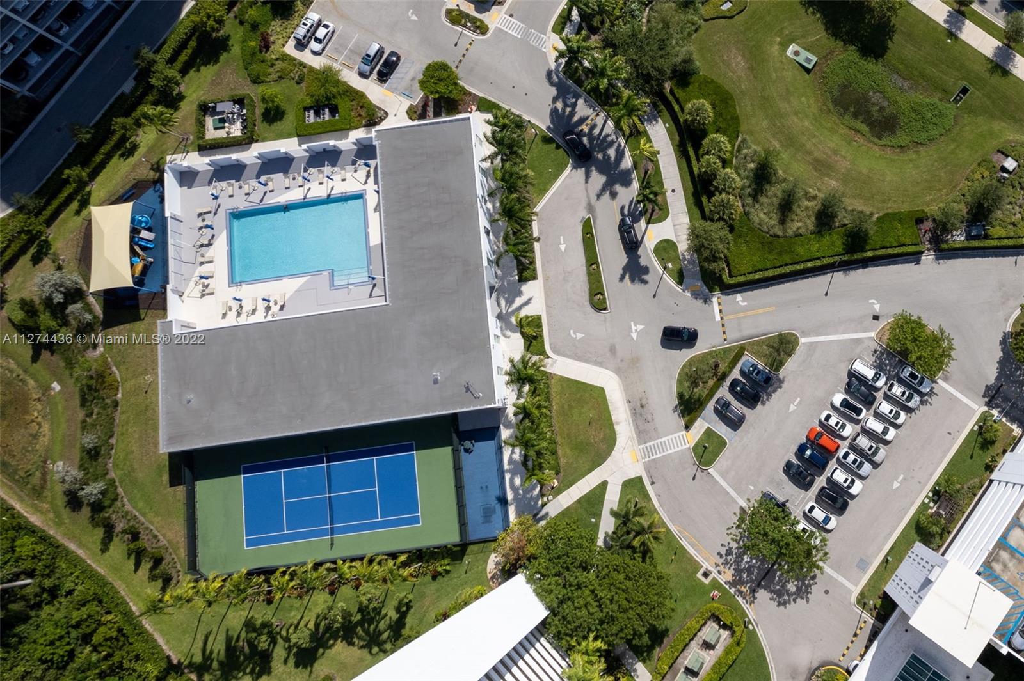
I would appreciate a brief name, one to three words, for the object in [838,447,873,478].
car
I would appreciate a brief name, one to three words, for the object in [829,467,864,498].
car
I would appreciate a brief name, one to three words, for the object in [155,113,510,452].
building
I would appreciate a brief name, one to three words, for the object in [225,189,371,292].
swimming pool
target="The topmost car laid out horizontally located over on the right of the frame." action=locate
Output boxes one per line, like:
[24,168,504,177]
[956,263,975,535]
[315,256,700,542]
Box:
[661,324,699,342]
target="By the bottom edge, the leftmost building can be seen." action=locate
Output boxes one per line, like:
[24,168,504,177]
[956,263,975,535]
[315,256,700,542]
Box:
[356,575,576,681]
